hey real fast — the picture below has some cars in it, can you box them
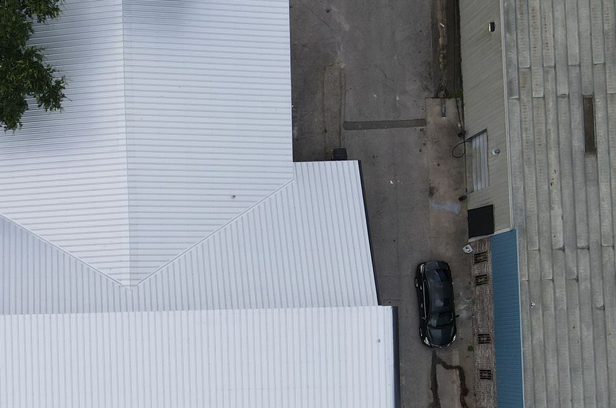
[417,259,463,346]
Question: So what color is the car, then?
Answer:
black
